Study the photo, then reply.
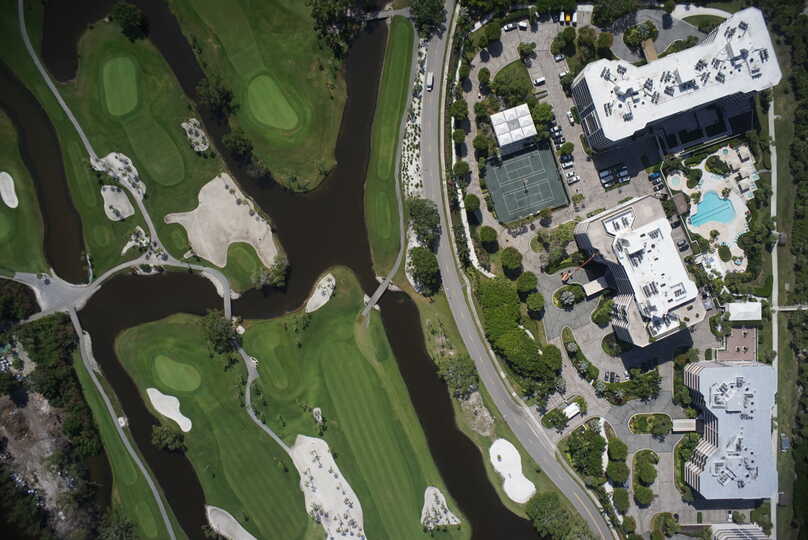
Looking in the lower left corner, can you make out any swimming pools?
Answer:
No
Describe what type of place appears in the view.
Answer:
golf course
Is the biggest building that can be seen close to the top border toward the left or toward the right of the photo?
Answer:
right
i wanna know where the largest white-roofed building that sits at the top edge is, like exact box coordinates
[569,6,782,152]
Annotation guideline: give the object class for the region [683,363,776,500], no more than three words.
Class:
building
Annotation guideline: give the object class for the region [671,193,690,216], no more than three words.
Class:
gazebo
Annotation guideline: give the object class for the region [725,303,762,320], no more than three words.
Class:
building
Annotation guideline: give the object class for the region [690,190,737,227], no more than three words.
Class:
swimming pool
